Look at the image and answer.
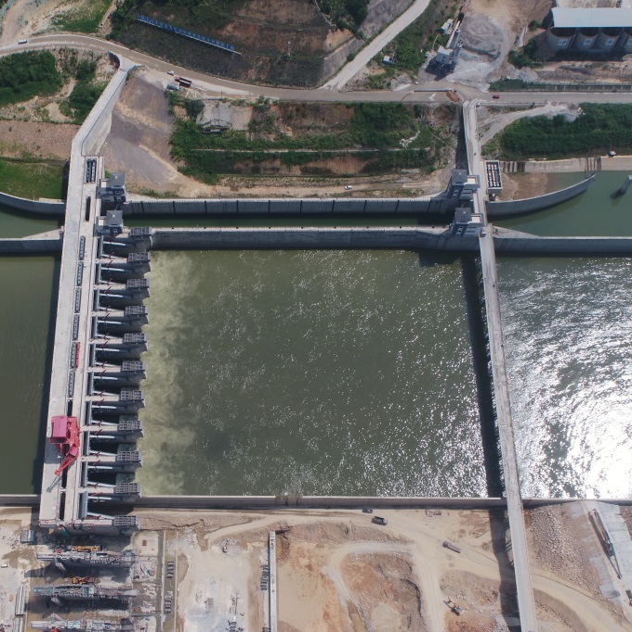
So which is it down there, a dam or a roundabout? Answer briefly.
dam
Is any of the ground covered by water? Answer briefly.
Yes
